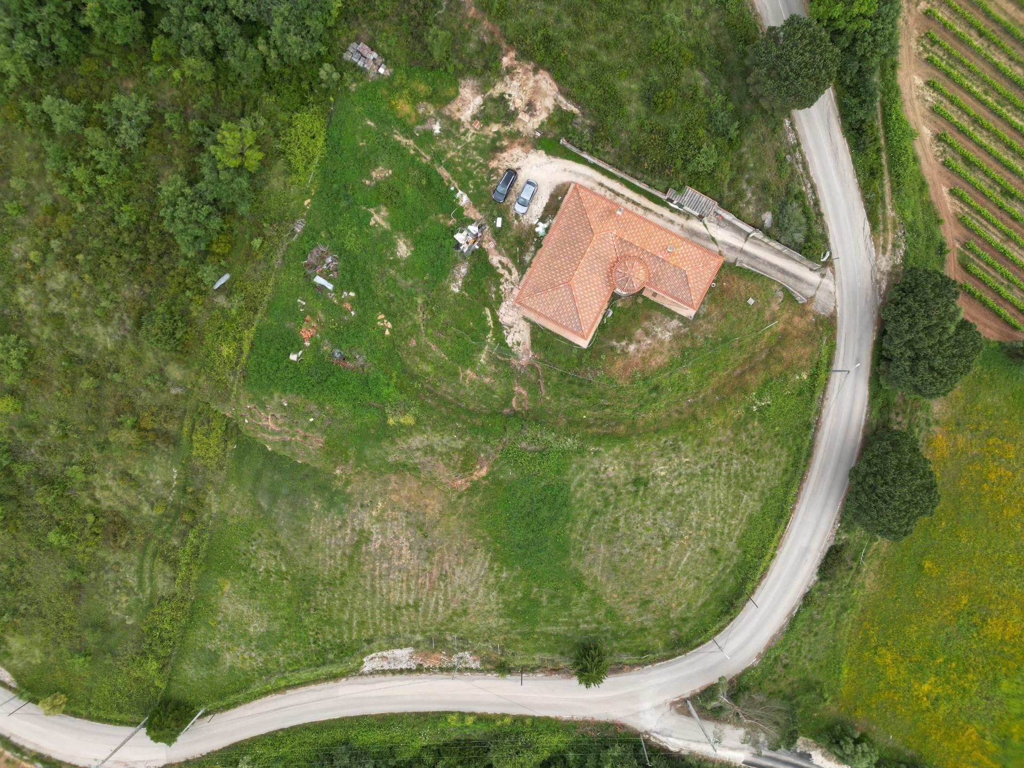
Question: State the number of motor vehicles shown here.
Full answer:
Altogether the scene contains 2 motor vehicles.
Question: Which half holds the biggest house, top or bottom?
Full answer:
Seen from above, the biggest house lies in the top half of the view.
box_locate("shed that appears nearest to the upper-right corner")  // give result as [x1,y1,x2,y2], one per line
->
[665,185,718,219]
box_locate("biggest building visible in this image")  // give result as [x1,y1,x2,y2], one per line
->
[510,182,724,346]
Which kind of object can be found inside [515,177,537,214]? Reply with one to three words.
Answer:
car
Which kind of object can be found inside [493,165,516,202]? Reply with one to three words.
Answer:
car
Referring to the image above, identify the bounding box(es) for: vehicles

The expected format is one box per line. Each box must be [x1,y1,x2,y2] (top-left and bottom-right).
[515,177,537,214]
[493,165,516,202]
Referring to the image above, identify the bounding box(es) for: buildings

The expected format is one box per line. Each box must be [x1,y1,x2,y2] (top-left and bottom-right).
[510,182,724,346]
[665,185,718,219]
